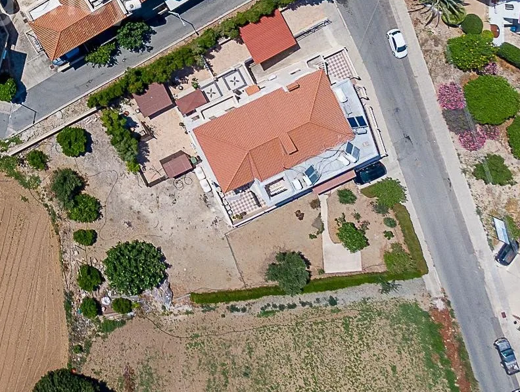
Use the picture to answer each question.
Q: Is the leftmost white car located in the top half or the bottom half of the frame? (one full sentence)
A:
The leftmost white car sits in the top half of the picture.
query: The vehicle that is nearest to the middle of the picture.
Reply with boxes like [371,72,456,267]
[355,163,386,184]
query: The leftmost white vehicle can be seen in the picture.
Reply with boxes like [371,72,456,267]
[387,28,408,58]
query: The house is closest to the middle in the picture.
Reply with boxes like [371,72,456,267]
[181,47,391,229]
